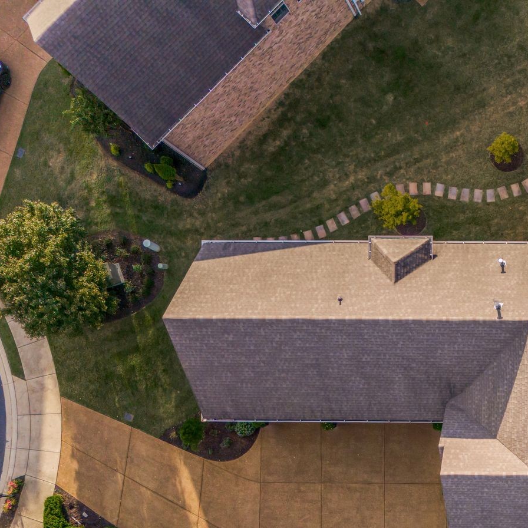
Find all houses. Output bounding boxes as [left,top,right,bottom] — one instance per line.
[167,233,528,528]
[22,0,371,167]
